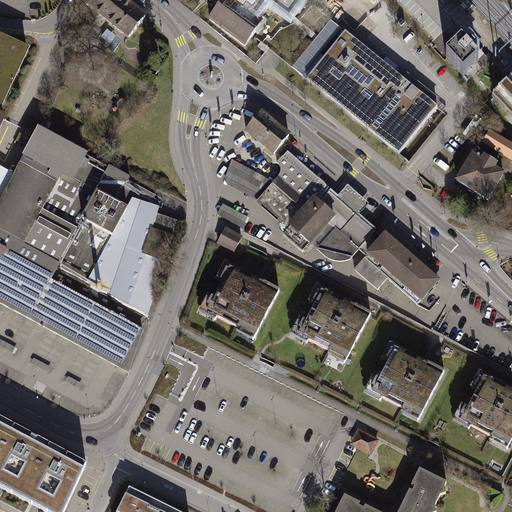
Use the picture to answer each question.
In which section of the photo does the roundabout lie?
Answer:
top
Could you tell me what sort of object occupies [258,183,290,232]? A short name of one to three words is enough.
building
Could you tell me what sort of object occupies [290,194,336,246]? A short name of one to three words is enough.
house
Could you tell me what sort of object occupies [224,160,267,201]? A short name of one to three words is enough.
shed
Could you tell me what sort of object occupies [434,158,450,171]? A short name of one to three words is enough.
vehicle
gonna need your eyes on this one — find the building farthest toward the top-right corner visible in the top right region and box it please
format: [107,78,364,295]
[445,28,486,76]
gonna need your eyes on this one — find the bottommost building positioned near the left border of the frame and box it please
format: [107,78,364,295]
[0,415,87,512]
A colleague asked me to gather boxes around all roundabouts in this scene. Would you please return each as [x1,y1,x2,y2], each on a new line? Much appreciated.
[180,48,242,107]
